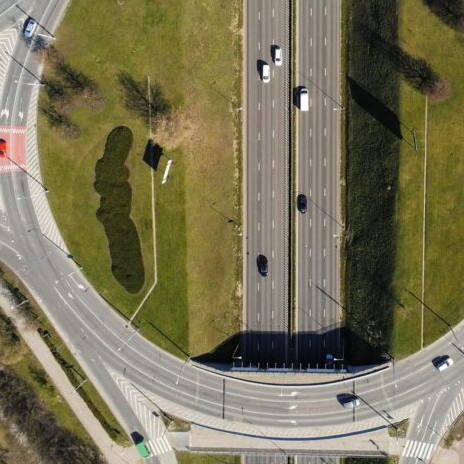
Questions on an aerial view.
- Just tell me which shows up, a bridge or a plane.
bridge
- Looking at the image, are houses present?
No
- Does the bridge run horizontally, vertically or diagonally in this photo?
horizontally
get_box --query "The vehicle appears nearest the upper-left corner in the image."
[24,20,37,37]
